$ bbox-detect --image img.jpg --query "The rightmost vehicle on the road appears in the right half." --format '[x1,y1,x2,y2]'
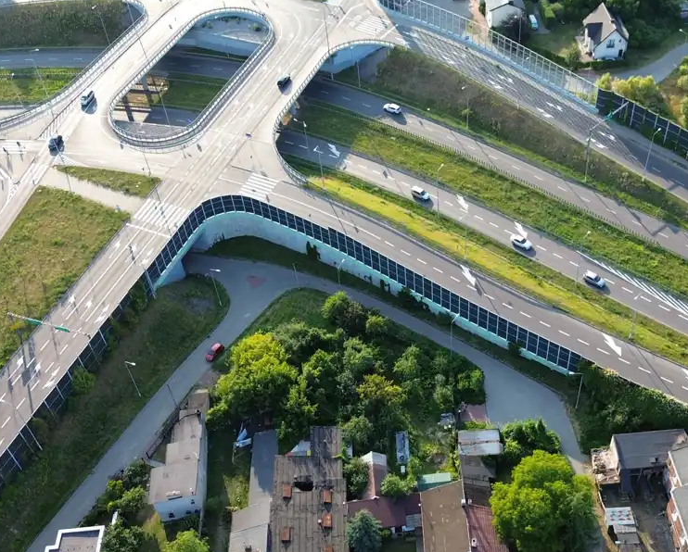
[583,268,607,287]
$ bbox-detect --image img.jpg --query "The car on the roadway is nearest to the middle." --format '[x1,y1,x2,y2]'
[410,184,430,199]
